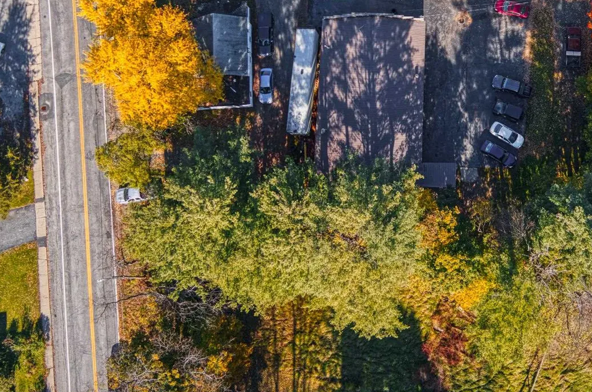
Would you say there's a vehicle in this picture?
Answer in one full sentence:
Yes, there's a vehicle here.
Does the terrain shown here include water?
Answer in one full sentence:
No, there is no water in the image.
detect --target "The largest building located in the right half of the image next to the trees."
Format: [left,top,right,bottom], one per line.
[315,15,426,181]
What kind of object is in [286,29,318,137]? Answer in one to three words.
trailer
